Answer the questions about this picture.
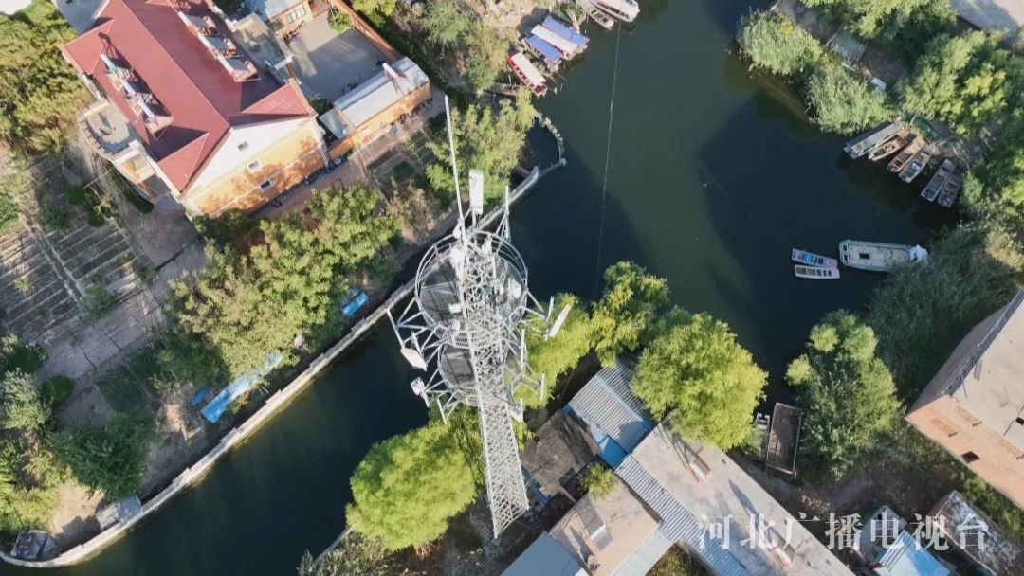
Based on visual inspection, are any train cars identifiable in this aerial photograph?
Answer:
No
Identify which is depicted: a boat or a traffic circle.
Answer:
boat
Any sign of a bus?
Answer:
No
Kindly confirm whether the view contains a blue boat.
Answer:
Yes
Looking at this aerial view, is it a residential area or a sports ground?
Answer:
residential area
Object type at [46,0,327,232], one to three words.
house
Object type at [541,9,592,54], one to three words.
boat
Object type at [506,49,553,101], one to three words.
boat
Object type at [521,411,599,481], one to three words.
house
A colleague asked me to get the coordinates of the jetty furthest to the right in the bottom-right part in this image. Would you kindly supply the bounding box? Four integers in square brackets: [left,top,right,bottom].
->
[753,411,772,449]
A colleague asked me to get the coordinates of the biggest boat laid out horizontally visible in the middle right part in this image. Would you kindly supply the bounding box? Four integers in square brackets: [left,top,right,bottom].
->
[836,242,932,266]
